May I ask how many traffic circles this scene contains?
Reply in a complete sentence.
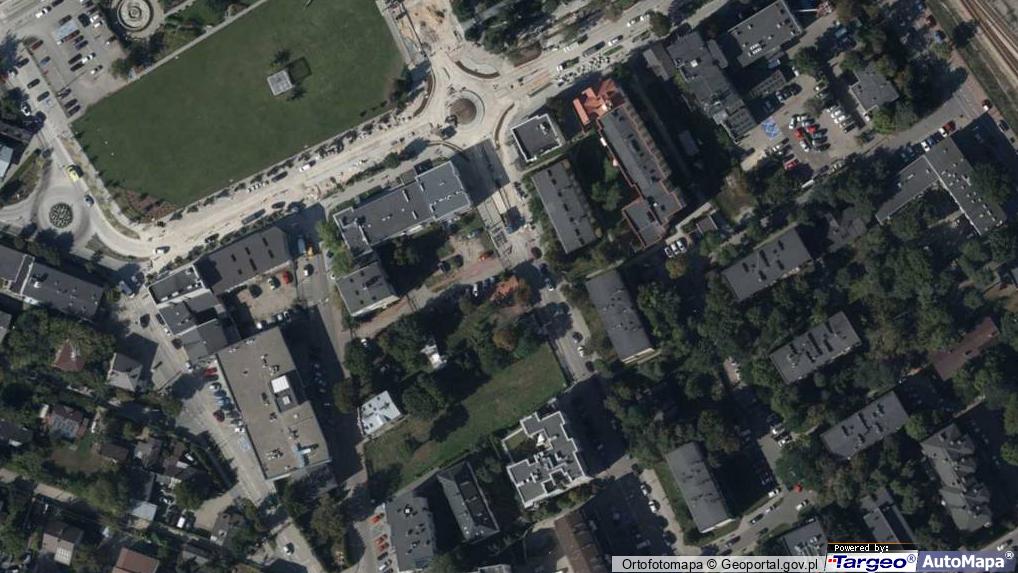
The number of traffic circles here is 2.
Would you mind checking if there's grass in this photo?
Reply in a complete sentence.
Yes, grass shows up in the scene.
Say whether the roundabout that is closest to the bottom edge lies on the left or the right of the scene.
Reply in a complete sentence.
The roundabout that is closest to the bottom edge appears in the left half of the scene.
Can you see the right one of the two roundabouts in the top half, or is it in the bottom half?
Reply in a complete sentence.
The right one of the two roundabouts is in the top half of the image.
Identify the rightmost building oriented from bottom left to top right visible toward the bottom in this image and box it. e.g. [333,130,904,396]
[936,316,1000,373]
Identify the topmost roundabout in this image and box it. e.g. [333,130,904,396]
[424,72,503,150]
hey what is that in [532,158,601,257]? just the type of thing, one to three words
building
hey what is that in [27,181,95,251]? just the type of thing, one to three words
roundabout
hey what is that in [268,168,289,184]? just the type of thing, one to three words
vehicle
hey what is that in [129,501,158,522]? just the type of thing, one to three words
shed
